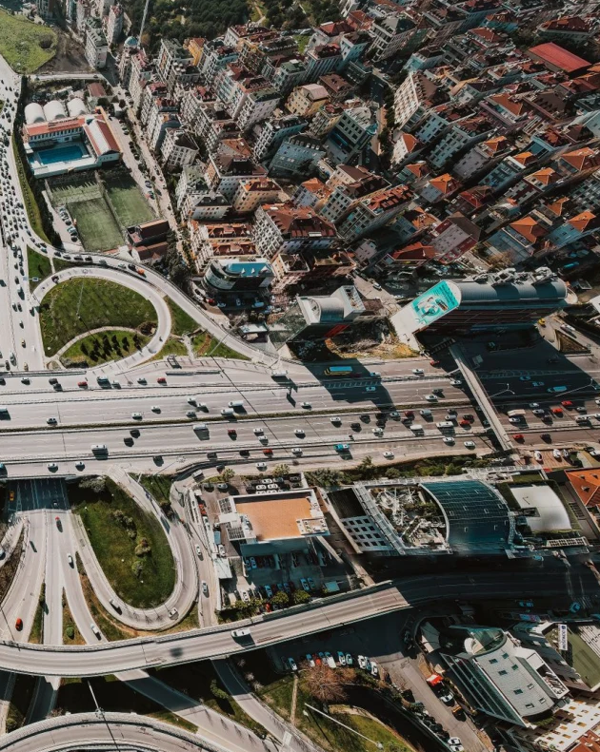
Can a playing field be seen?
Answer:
Yes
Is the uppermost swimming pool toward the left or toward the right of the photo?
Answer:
left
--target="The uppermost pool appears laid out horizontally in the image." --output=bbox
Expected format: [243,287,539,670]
[36,144,87,164]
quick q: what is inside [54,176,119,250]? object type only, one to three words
sports field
